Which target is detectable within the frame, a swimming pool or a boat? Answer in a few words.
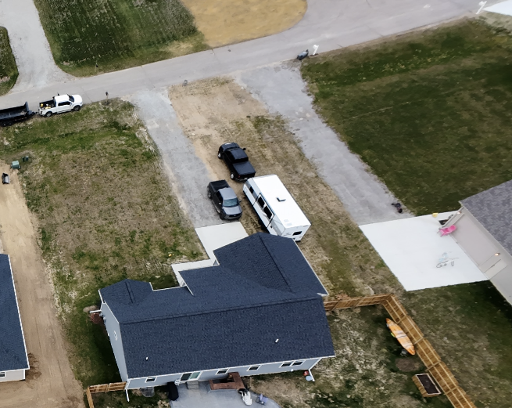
boat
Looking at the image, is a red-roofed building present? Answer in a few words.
No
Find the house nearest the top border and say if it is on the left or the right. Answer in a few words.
right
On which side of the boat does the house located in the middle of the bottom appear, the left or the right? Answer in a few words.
on its left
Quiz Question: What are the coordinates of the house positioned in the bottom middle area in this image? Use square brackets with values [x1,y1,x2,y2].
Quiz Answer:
[97,231,336,403]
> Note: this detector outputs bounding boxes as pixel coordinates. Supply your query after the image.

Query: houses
[0,252,29,384]
[97,231,336,403]
[441,182,512,304]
